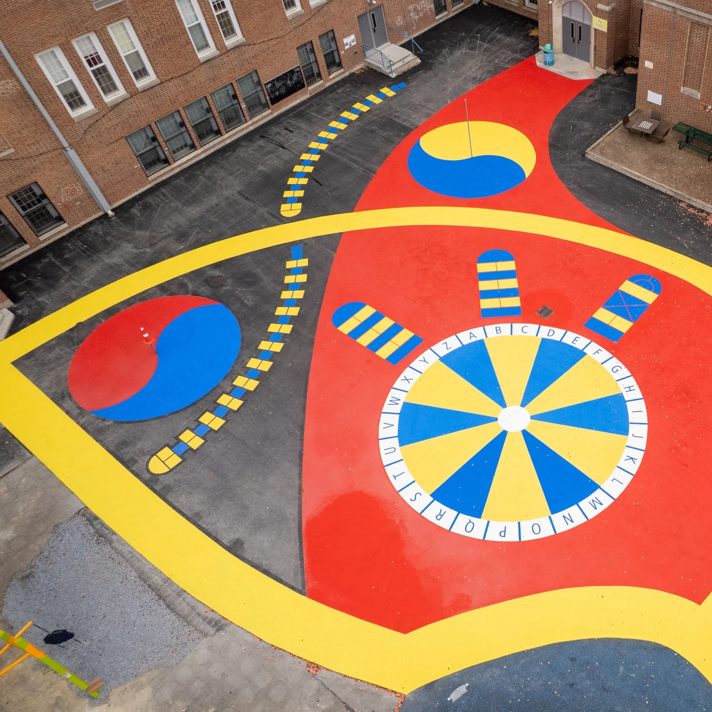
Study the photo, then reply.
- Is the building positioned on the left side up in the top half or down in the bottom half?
top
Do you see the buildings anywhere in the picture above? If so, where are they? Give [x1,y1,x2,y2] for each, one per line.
[0,0,539,310]
[636,0,712,132]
